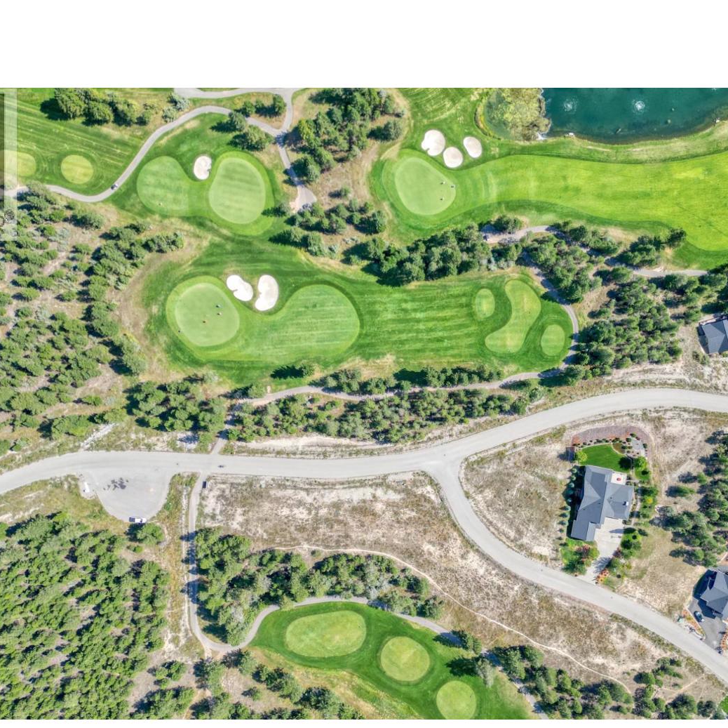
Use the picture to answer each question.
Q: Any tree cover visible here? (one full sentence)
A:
Yes, the picture does contain tree cover.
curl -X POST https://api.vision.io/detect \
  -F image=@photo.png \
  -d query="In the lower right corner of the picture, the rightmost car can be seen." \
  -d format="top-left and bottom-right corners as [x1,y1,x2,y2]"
[694,608,706,625]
